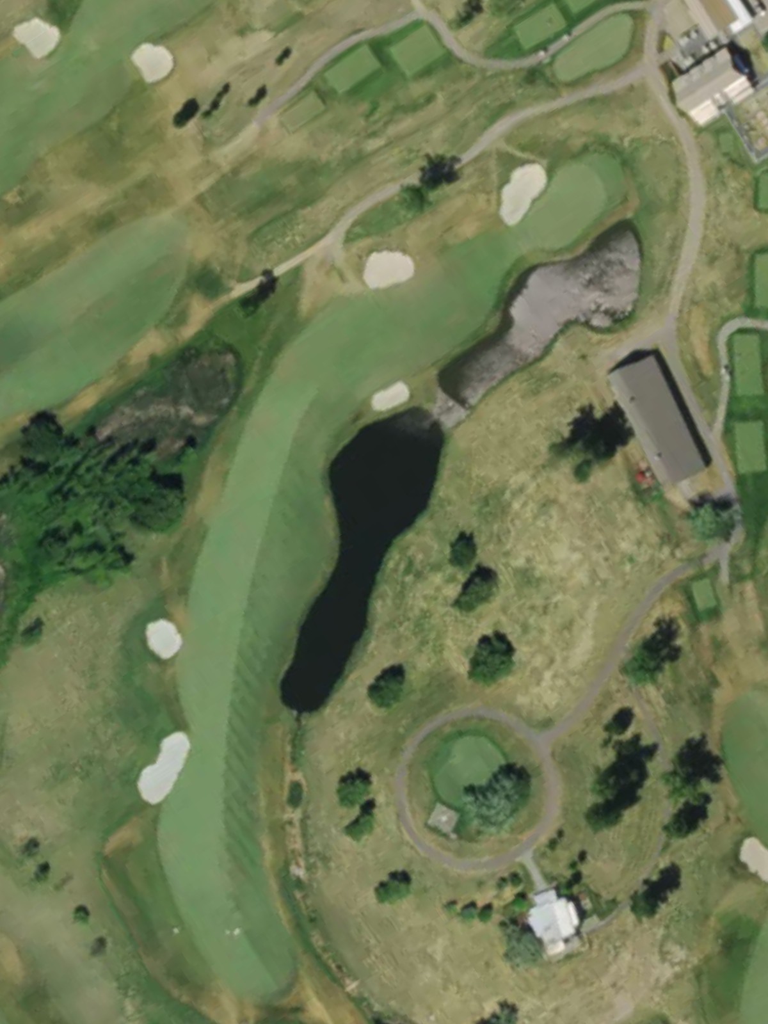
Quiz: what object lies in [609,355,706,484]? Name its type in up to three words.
barn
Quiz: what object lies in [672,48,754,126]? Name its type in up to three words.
building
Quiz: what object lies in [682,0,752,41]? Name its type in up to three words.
building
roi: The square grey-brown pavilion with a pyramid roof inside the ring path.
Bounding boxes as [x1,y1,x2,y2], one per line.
[427,803,459,832]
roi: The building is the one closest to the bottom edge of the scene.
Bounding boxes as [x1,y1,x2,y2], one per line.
[528,890,579,955]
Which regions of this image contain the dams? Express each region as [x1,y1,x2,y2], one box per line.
[433,385,471,429]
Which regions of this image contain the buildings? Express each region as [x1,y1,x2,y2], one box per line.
[427,803,459,832]
[672,48,754,126]
[609,355,706,484]
[682,0,752,41]
[528,890,579,955]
